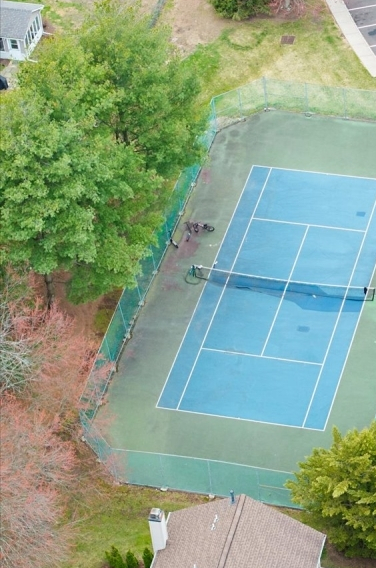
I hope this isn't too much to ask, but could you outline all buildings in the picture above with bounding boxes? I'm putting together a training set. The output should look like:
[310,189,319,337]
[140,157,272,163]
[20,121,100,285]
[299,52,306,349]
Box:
[148,493,327,568]
[0,4,43,58]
